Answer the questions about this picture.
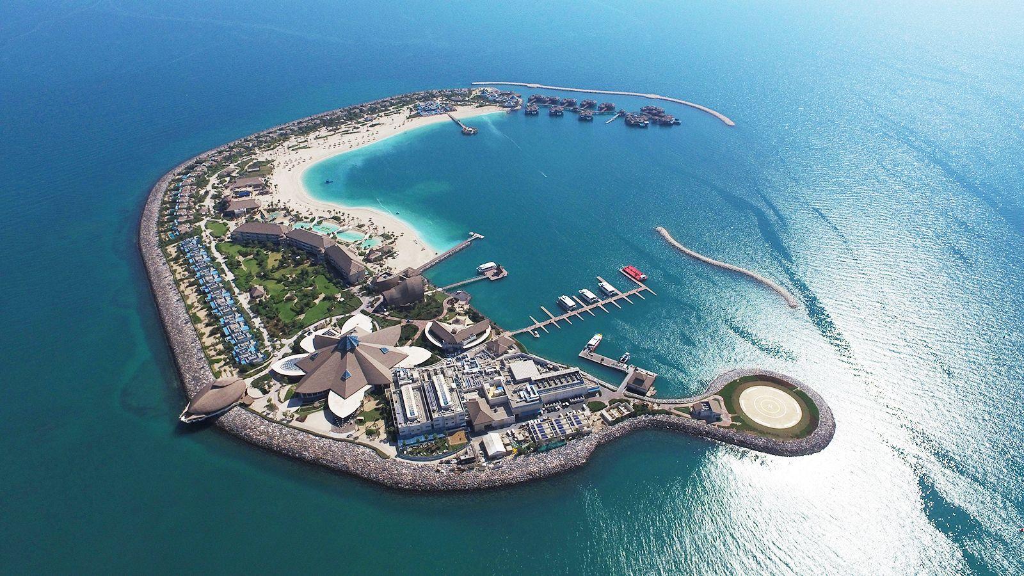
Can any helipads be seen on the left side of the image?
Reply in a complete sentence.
No, no helipad is visible on the left side of the image.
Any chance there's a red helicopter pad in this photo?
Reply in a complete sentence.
No, no red helicopter pad is visible in the scene.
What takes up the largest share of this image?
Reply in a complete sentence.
The scene is dominated by water.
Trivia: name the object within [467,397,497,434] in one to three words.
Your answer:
house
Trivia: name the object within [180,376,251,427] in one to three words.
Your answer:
building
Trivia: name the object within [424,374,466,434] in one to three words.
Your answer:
building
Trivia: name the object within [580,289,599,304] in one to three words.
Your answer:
ship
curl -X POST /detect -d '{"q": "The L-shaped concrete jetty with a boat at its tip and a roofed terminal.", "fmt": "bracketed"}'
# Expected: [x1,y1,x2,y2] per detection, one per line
[579,349,658,396]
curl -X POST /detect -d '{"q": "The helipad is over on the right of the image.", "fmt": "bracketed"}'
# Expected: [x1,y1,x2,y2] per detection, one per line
[736,386,806,431]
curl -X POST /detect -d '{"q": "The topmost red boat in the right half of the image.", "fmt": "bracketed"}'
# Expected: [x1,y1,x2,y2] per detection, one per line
[621,266,647,281]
